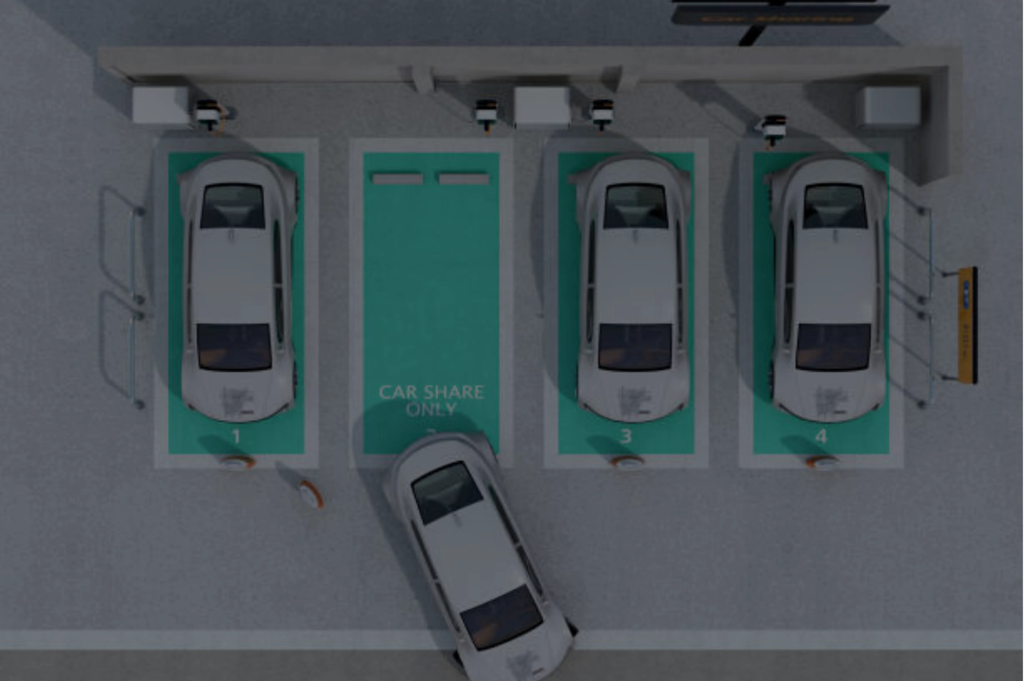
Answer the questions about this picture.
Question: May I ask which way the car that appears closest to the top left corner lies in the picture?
vertically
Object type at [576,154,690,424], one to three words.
car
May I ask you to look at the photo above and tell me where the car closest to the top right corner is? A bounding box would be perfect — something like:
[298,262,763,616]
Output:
[769,154,886,424]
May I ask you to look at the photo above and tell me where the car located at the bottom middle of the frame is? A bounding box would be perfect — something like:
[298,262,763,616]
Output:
[381,432,579,681]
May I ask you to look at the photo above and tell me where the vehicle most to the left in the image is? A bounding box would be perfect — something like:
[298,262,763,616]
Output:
[182,154,298,424]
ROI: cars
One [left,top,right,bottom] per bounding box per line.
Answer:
[381,432,579,681]
[182,154,298,424]
[576,154,690,424]
[769,154,886,424]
